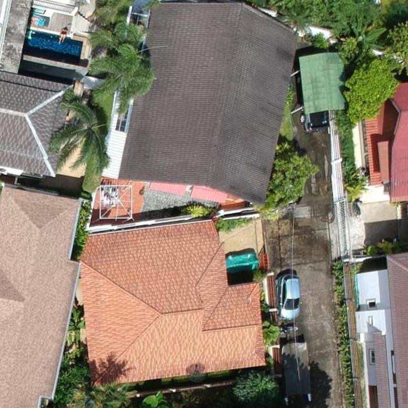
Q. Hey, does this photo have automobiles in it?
Yes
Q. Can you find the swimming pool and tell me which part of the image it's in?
top left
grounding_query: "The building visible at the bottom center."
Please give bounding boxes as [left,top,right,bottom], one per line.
[78,220,267,384]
